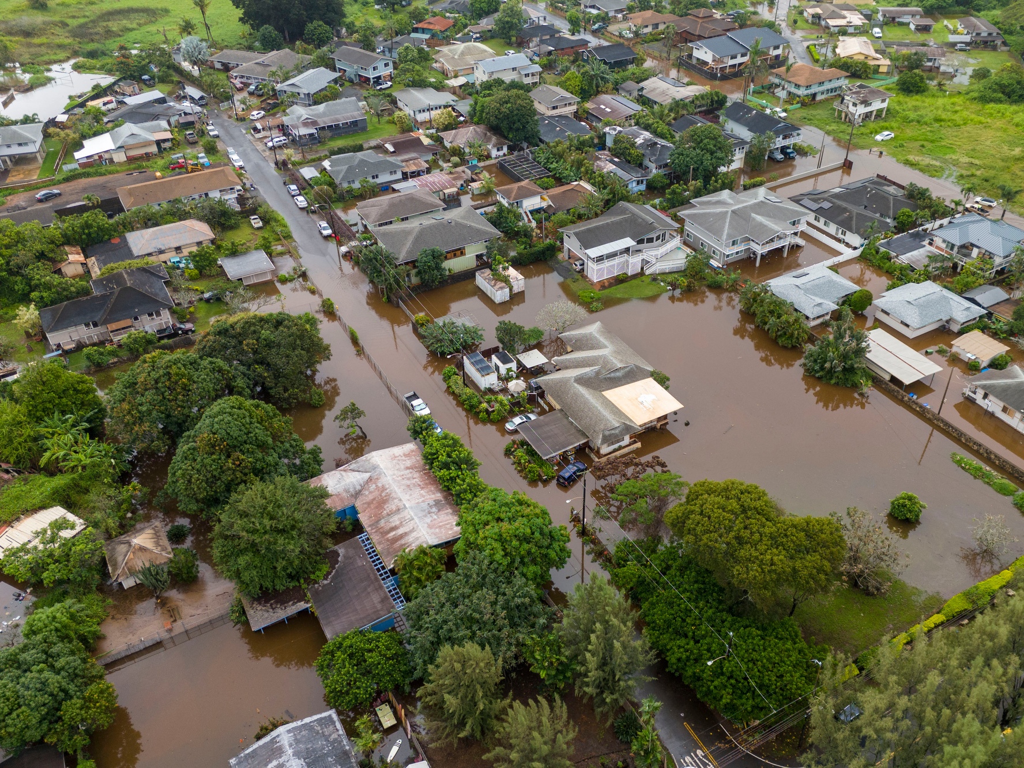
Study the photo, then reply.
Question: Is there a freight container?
Yes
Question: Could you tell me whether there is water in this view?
Yes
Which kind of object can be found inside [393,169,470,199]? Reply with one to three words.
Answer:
shed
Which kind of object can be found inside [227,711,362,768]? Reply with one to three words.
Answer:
house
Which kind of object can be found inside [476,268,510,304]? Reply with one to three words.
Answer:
shipping container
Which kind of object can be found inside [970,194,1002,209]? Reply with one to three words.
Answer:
car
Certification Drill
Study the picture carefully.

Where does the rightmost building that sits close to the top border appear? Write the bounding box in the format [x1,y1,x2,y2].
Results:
[945,14,1005,48]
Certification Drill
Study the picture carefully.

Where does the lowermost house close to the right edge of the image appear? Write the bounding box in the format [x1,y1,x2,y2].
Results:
[964,365,1024,440]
